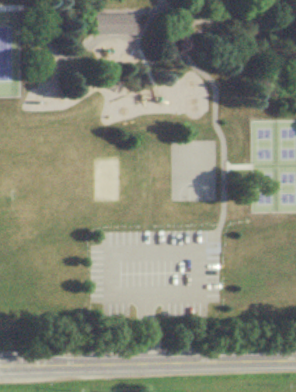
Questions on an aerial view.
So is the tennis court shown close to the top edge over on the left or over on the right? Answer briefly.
left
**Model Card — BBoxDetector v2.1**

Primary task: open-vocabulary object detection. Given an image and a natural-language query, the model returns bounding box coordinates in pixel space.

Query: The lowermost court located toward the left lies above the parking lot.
[94,158,119,202]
